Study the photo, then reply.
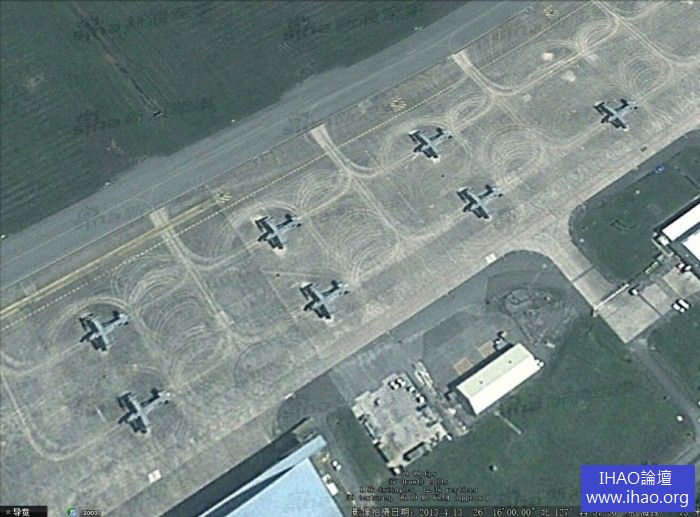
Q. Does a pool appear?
No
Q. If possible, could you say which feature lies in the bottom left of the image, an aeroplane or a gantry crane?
aeroplane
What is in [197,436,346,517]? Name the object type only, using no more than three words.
hangar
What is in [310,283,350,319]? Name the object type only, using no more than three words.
airplane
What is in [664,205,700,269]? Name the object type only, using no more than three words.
building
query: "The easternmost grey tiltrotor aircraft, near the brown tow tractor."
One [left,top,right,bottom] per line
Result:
[601,98,643,134]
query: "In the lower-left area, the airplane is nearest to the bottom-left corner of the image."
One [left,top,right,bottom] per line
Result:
[124,394,166,430]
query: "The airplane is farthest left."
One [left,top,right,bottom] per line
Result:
[85,314,126,350]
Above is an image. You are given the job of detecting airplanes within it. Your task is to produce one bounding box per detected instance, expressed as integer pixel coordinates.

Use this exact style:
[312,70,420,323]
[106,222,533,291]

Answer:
[310,283,350,319]
[463,183,506,220]
[264,213,304,250]
[601,98,643,134]
[124,394,166,430]
[85,314,126,350]
[413,125,456,162]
